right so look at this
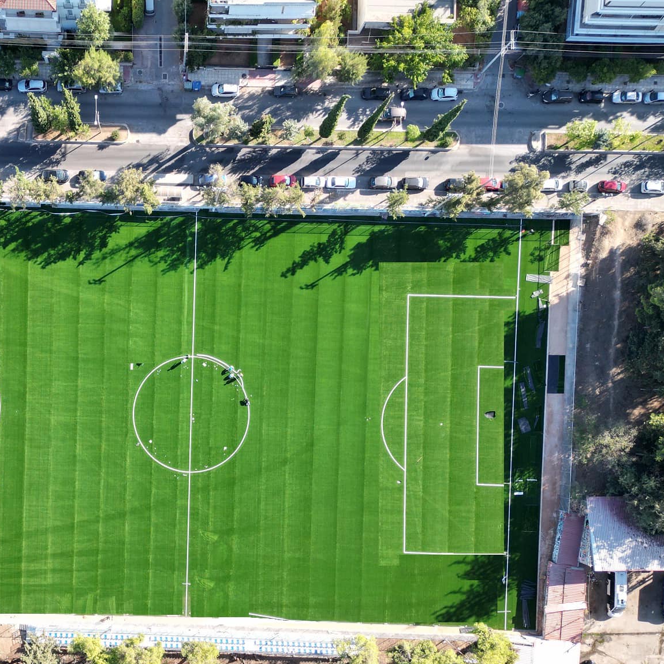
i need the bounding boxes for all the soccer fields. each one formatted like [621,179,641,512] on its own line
[0,205,569,632]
